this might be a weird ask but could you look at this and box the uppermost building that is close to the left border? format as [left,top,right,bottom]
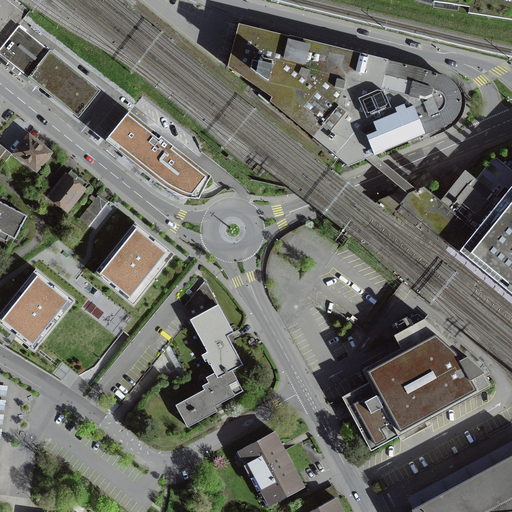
[0,25,47,76]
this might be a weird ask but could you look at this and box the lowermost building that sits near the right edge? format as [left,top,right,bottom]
[407,439,512,512]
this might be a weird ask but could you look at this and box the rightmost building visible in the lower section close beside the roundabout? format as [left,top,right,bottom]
[176,280,242,427]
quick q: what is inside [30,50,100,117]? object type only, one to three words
building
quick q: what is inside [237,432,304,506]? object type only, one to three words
house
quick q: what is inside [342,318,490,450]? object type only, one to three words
building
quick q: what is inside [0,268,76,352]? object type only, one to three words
house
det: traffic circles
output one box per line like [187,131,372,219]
[201,198,265,262]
